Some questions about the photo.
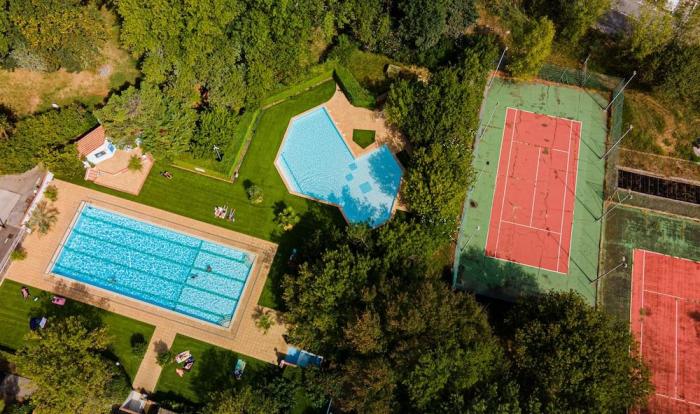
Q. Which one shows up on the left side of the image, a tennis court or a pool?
pool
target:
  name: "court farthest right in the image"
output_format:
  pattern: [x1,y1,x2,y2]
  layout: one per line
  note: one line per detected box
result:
[598,202,700,414]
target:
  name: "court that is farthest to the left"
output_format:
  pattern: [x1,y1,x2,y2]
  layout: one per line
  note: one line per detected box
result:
[450,75,610,320]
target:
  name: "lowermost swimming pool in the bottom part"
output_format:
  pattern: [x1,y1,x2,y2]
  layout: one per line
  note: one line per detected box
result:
[39,196,268,338]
